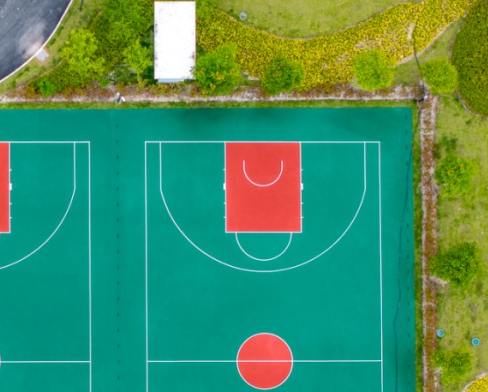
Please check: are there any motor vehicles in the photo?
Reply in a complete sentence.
No, no motor vehicle is visible in the view.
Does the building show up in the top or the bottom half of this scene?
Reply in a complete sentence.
Seen from above, the building lies in the top half of the view.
